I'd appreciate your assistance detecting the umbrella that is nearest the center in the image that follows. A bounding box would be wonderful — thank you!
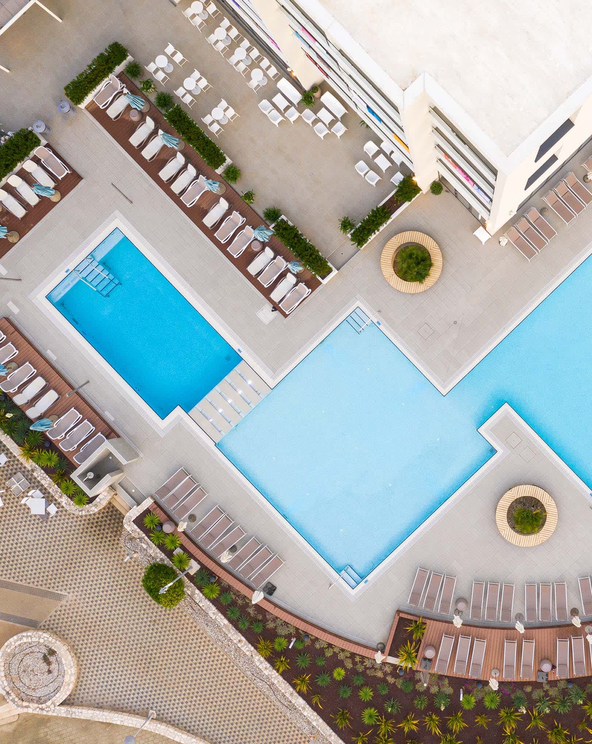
[290,259,307,273]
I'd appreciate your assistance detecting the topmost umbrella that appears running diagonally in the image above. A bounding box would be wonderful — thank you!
[127,91,152,112]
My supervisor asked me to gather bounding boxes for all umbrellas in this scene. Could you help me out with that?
[32,185,61,201]
[581,168,592,185]
[259,582,277,602]
[420,658,432,684]
[0,227,19,243]
[178,512,198,527]
[127,91,152,112]
[257,226,275,241]
[220,544,239,560]
[29,416,60,430]
[453,607,465,626]
[513,612,525,632]
[0,360,18,373]
[374,640,386,662]
[497,237,508,251]
[162,131,186,151]
[584,624,592,643]
[570,606,583,625]
[290,259,307,273]
[206,177,226,194]
[490,667,501,690]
